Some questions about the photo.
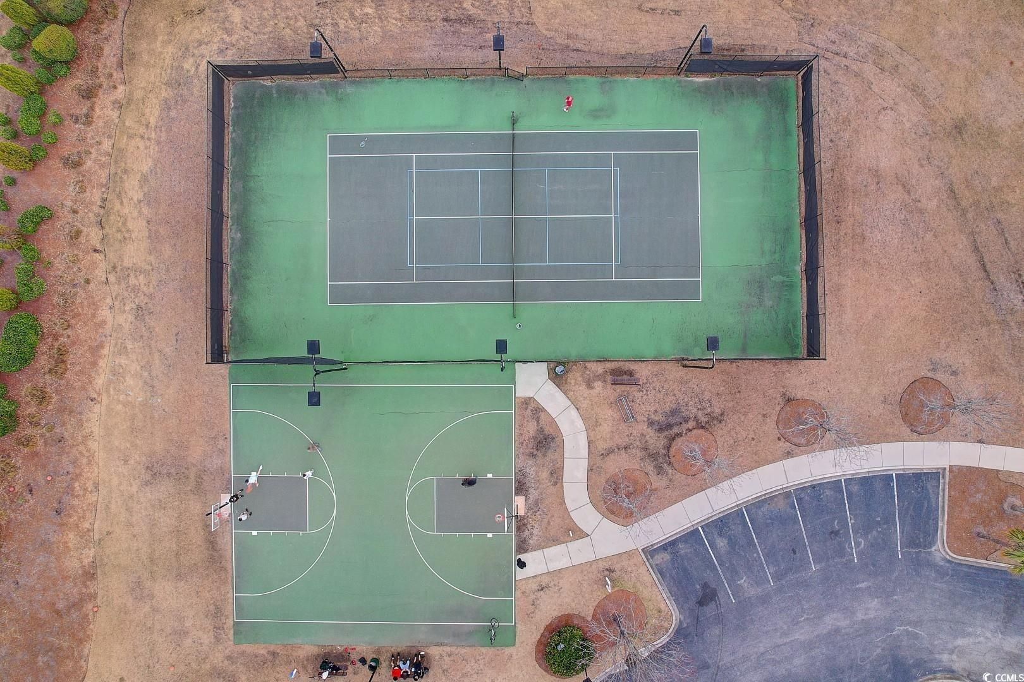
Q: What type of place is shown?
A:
sports ground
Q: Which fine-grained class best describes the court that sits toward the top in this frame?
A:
tennis court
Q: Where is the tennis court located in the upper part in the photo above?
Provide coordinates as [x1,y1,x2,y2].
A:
[229,75,802,361]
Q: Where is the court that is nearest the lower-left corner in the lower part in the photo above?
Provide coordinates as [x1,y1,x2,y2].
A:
[229,362,516,647]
